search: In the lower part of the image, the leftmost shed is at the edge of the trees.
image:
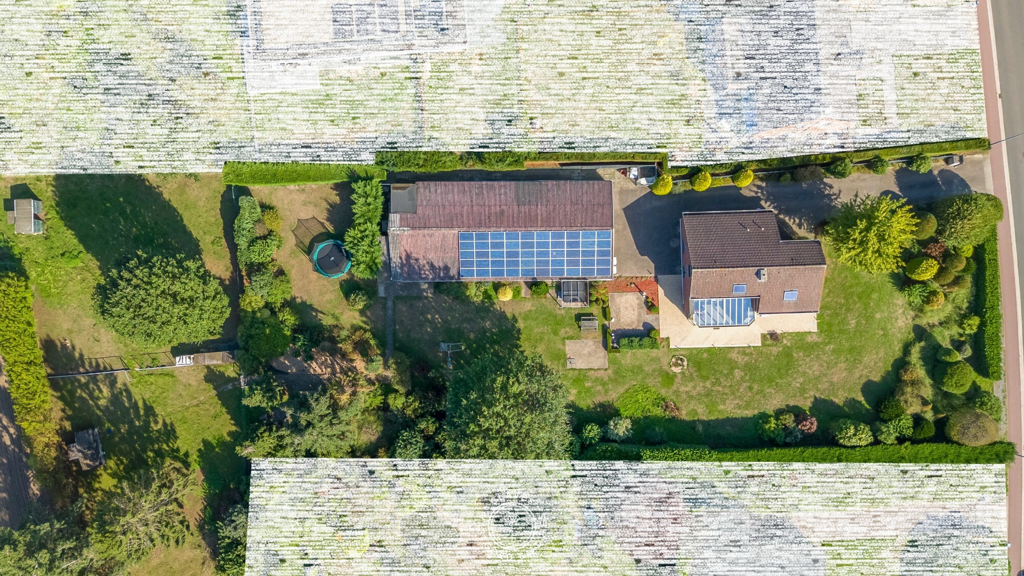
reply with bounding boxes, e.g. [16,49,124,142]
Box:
[67,427,105,470]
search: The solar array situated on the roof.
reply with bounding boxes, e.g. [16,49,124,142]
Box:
[459,231,615,278]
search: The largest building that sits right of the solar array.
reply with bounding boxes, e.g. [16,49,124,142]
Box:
[678,208,828,326]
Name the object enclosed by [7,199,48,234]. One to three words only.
shed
